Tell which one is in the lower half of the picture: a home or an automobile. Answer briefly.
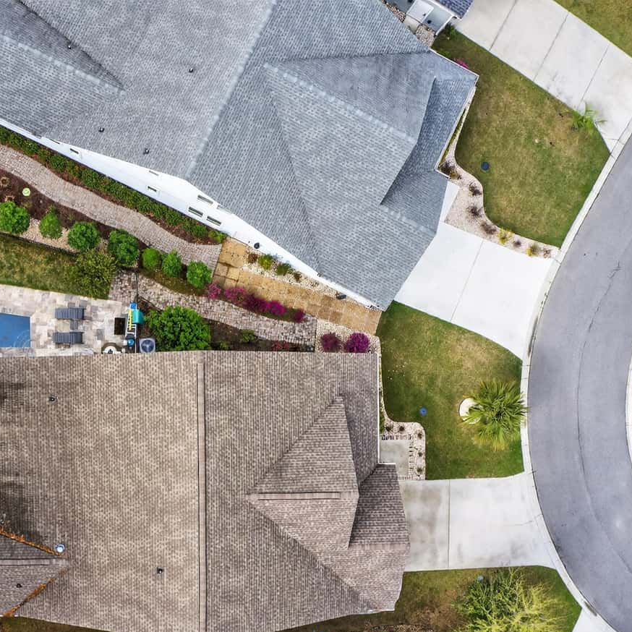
home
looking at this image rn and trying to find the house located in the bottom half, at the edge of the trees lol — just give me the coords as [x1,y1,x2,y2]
[0,353,409,632]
